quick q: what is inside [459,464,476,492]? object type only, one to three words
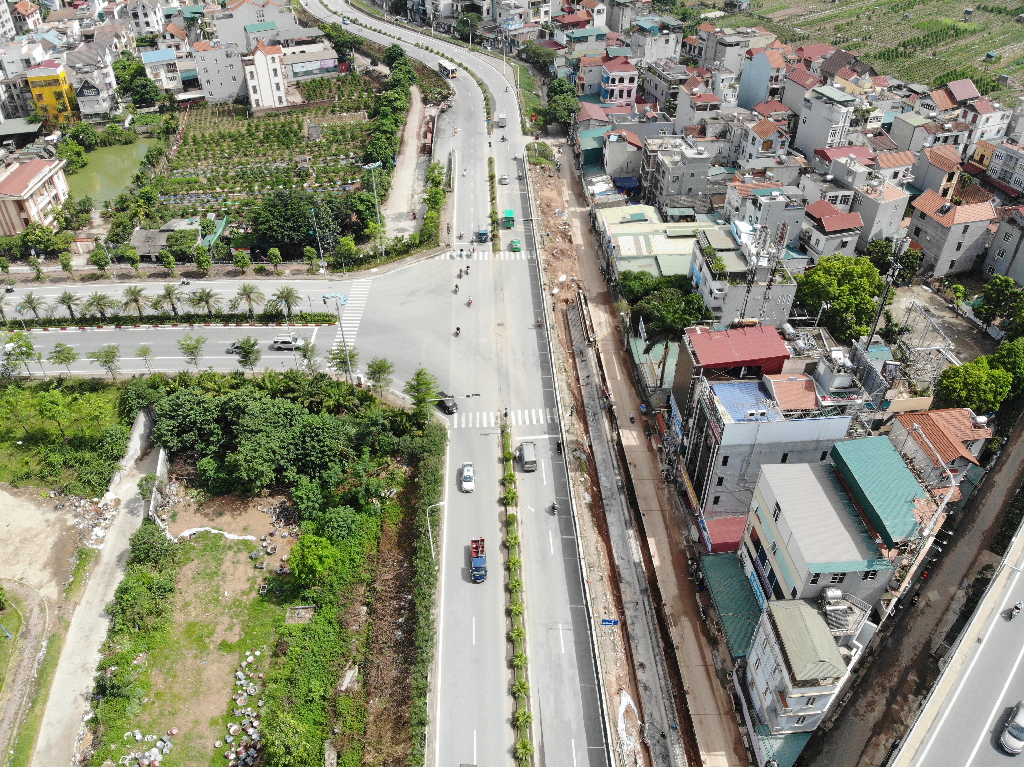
car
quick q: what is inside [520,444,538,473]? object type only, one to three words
car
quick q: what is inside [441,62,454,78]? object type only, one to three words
vehicle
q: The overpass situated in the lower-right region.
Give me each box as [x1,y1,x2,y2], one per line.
[890,523,1024,767]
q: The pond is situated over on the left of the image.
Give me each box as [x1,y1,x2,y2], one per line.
[71,135,162,216]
